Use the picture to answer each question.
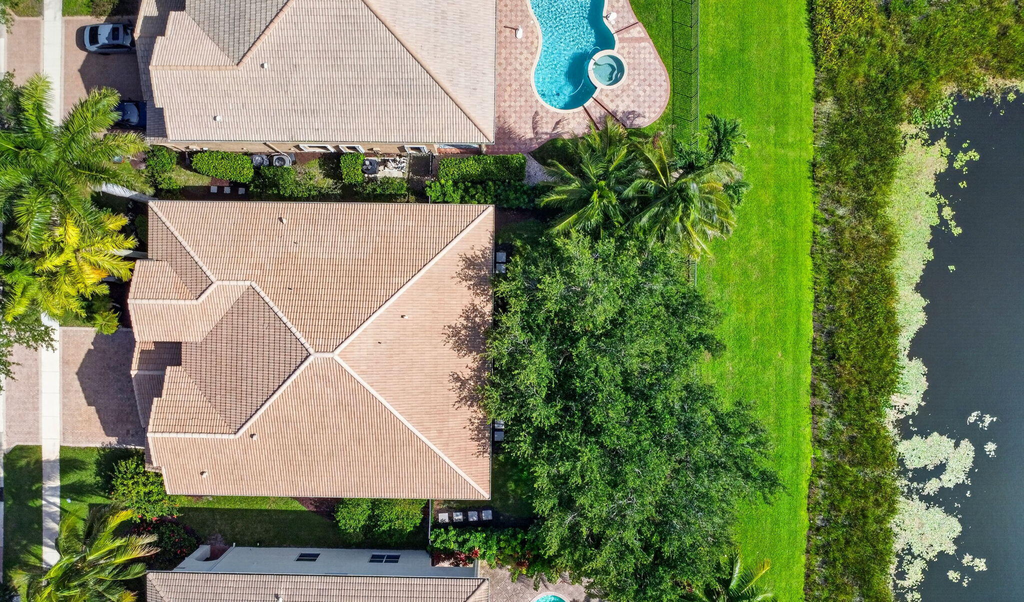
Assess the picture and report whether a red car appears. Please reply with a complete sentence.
No, I can't see a single red car in this photo.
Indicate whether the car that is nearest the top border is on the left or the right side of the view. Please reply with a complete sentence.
The car that is nearest the top border is on the left side of the image.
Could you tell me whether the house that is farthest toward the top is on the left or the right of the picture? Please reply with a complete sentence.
The house that is farthest toward the top appears in the left half of the scene.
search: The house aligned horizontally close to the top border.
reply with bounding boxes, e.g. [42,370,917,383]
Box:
[131,0,498,155]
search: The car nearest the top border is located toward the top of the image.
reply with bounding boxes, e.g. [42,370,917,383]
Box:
[82,21,139,60]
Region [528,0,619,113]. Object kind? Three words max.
swimming pool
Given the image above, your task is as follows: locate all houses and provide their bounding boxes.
[131,0,498,155]
[144,545,493,602]
[123,200,496,501]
